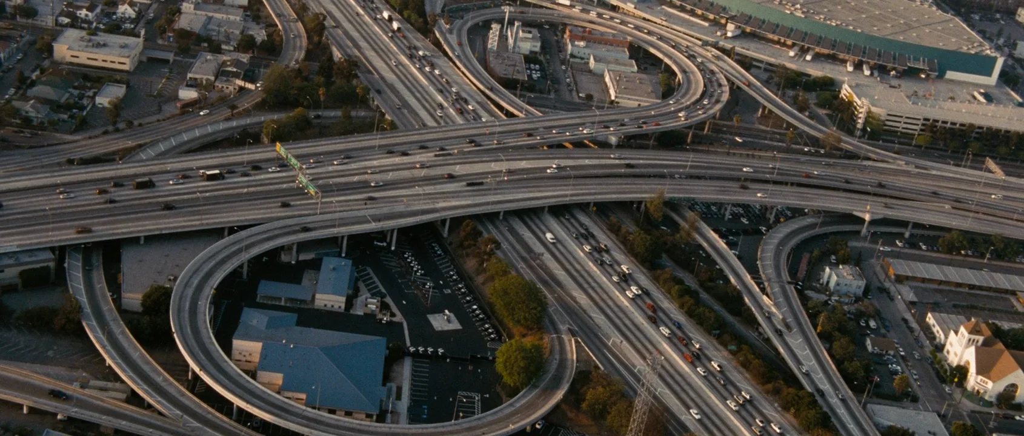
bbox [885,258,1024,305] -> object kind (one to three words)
building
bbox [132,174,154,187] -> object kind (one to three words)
vehicle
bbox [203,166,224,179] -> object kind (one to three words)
vehicle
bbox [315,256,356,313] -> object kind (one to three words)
building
